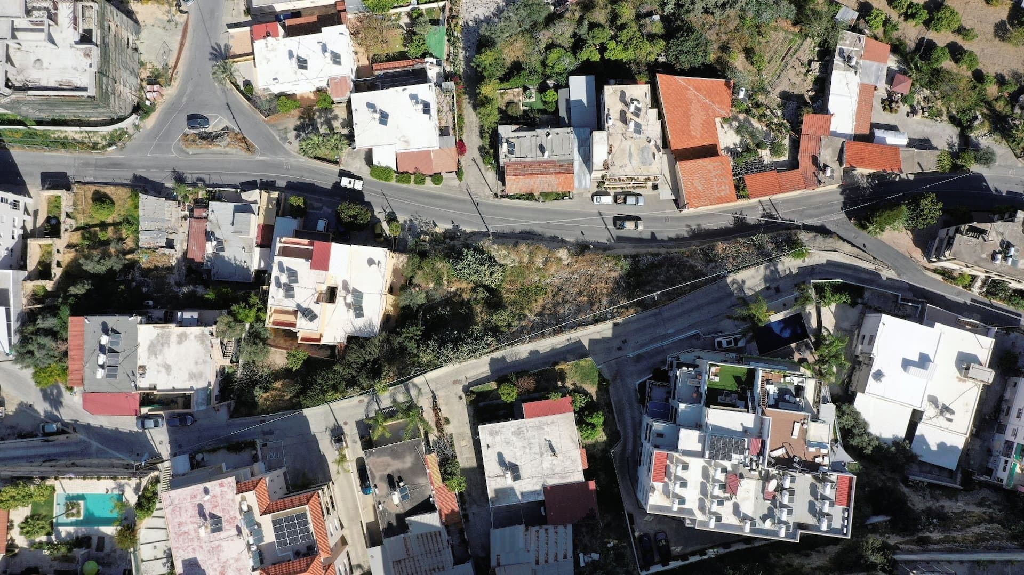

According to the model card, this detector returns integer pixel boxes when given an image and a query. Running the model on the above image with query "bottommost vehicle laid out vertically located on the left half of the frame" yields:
[358,465,372,494]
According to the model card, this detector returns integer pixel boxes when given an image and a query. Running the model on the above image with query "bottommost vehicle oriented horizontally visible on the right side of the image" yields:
[715,336,745,349]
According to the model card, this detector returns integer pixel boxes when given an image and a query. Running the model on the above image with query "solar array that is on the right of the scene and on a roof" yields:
[708,433,746,464]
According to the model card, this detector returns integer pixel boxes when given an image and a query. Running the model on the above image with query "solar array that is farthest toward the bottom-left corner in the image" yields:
[272,512,314,549]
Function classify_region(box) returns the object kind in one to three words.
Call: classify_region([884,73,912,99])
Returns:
gazebo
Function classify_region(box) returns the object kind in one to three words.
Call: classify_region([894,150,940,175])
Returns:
shed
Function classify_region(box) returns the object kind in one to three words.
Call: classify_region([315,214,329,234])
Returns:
vehicle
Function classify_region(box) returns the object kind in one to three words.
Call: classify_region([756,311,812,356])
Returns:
swimming pool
